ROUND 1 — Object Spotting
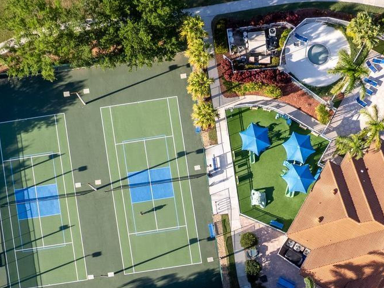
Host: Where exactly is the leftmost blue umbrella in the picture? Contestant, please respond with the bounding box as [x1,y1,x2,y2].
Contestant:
[239,123,271,156]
